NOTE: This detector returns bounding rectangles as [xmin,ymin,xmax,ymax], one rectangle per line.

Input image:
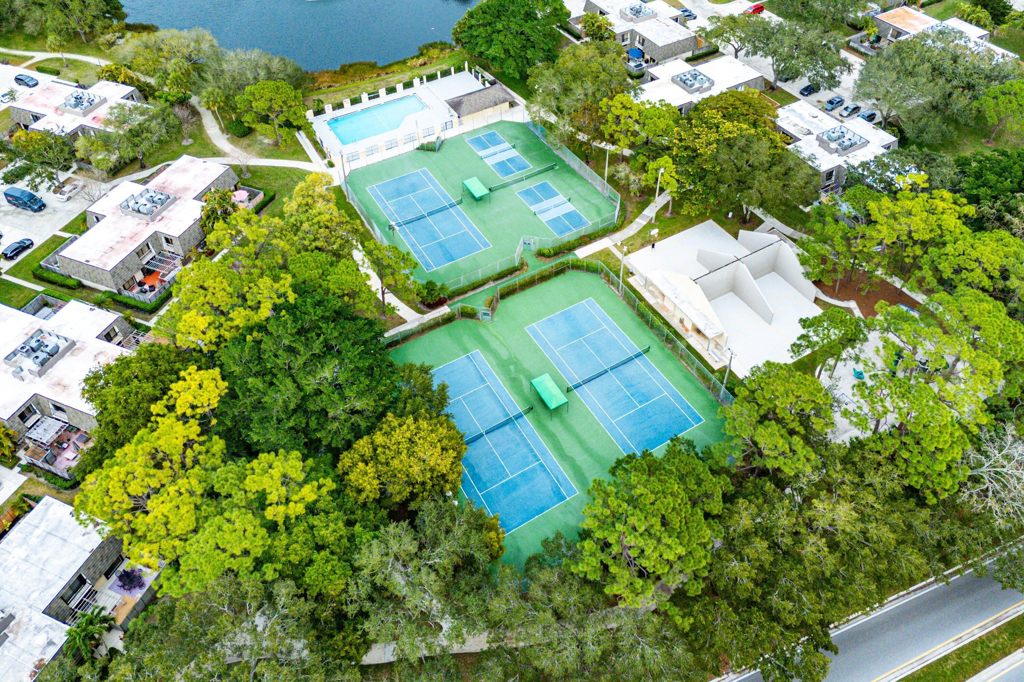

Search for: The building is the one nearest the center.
[644,269,725,352]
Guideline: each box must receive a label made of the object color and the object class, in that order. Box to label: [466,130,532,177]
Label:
blue sports court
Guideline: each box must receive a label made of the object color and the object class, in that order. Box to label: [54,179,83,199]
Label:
white car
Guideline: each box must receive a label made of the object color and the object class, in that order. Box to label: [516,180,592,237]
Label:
blue sports court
